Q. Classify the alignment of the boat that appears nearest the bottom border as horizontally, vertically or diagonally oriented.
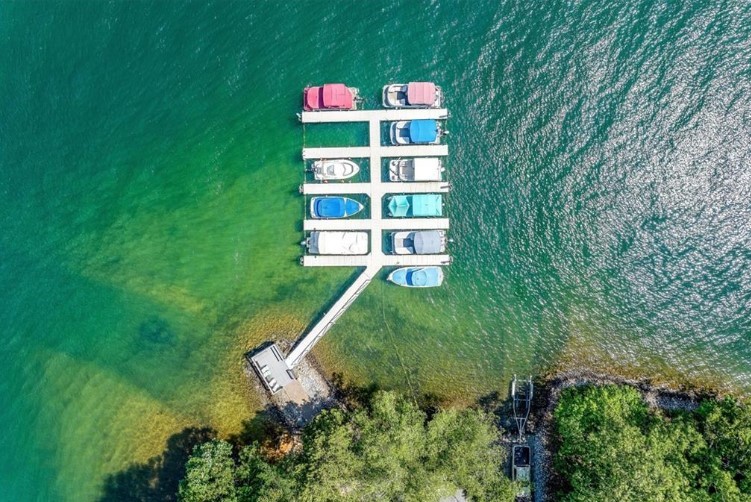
horizontally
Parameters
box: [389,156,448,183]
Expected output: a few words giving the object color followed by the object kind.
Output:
white boat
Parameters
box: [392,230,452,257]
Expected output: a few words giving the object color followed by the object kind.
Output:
white boat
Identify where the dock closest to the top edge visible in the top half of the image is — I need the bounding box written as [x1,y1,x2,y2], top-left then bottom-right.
[302,108,450,280]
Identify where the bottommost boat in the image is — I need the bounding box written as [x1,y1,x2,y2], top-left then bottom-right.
[387,262,447,289]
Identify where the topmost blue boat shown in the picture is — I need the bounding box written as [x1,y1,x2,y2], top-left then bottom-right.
[390,119,447,145]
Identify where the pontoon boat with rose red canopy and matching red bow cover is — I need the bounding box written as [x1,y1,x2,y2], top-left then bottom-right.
[304,83,362,114]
